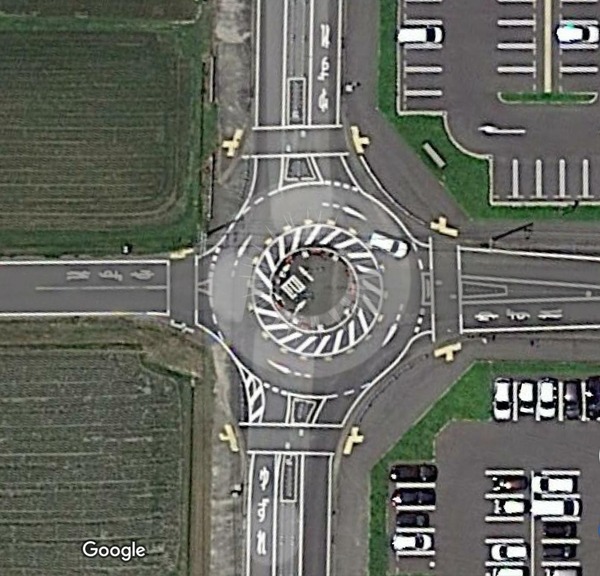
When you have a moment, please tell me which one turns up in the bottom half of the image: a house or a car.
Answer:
car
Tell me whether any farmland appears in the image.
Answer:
Yes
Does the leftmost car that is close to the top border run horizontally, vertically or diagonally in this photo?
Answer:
horizontally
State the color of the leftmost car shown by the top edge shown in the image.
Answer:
white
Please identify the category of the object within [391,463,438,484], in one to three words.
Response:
car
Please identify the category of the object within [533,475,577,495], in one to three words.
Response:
car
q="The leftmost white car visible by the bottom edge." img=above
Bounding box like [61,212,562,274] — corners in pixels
[391,532,434,553]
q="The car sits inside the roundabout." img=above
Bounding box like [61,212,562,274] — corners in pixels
[369,231,410,257]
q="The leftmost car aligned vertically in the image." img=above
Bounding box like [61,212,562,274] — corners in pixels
[493,378,514,422]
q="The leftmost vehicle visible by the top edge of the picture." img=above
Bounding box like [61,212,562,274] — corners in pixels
[399,23,445,44]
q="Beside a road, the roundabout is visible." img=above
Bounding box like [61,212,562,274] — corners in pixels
[209,180,425,400]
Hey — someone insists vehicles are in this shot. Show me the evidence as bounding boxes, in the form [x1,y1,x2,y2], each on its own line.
[396,512,429,529]
[391,532,434,553]
[487,566,529,576]
[564,381,583,420]
[493,497,529,516]
[543,566,581,576]
[543,543,577,560]
[531,497,582,518]
[493,378,514,422]
[557,24,600,43]
[399,23,445,44]
[543,521,577,539]
[491,543,529,562]
[369,231,410,257]
[493,475,528,493]
[533,475,577,495]
[538,377,558,420]
[519,381,537,415]
[391,463,438,484]
[588,376,600,421]
[392,488,436,507]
